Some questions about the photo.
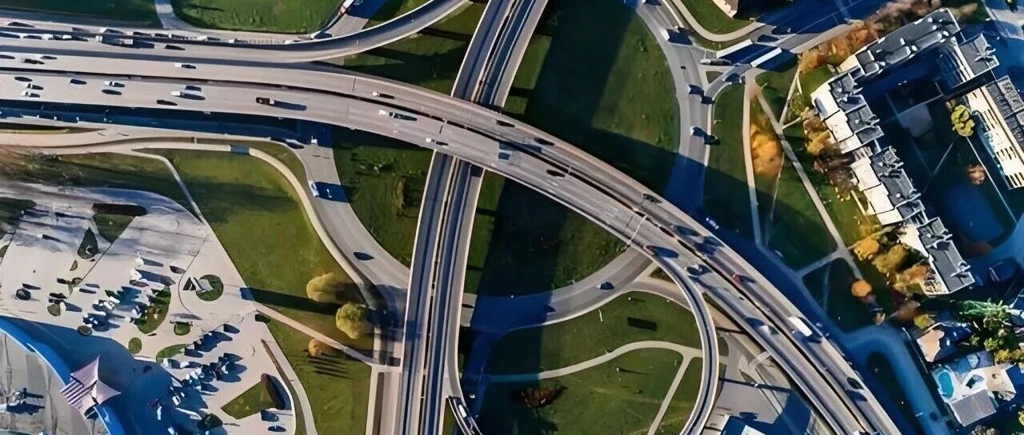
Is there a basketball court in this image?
No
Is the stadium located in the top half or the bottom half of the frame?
bottom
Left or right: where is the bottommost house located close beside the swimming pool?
right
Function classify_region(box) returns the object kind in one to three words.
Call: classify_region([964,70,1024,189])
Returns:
building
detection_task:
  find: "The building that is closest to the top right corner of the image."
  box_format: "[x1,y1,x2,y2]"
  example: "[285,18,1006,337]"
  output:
[939,32,1000,82]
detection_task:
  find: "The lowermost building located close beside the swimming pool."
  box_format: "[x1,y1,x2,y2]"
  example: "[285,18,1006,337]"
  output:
[946,388,998,427]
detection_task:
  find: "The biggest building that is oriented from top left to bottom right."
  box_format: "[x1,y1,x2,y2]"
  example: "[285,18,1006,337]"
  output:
[812,72,976,296]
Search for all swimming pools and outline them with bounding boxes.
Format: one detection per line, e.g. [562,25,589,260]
[939,369,955,398]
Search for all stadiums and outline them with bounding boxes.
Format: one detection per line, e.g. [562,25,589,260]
[0,315,125,435]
